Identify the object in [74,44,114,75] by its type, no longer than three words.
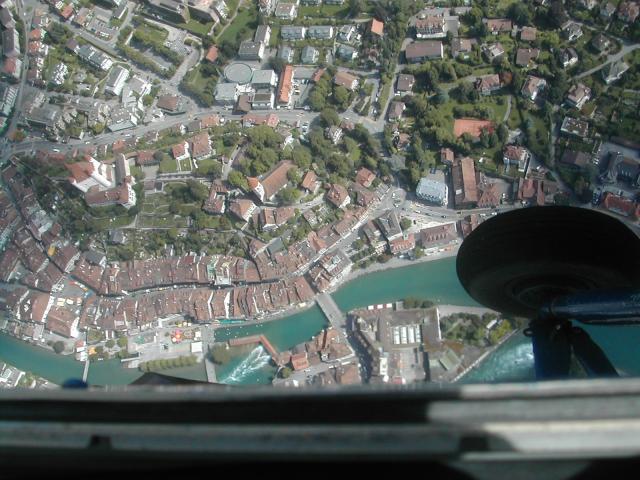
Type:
building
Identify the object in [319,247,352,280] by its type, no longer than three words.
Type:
building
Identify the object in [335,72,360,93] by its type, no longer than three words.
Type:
house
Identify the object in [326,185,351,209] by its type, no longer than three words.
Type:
house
